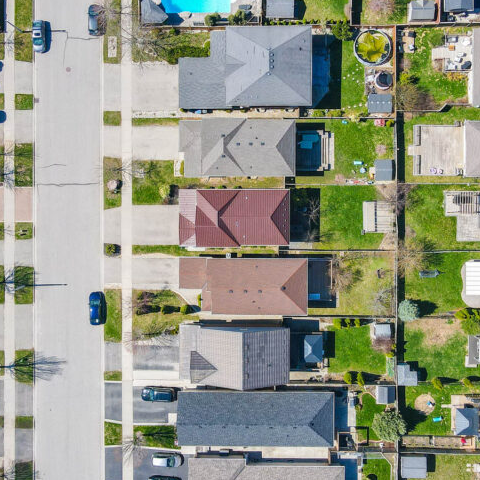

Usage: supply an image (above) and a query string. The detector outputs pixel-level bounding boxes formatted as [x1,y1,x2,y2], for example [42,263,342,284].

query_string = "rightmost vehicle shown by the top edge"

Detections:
[88,5,103,36]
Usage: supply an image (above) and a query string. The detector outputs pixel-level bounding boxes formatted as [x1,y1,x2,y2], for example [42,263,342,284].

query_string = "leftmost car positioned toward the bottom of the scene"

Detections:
[88,291,105,324]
